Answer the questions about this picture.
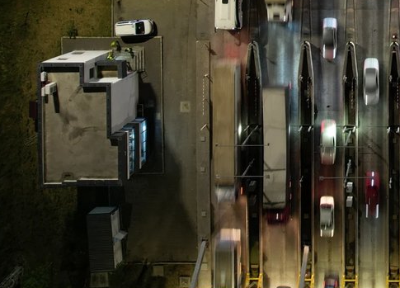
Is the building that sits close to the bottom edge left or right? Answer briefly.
left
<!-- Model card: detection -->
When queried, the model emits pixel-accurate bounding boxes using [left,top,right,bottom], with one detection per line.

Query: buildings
[87,206,132,278]
[41,44,151,187]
